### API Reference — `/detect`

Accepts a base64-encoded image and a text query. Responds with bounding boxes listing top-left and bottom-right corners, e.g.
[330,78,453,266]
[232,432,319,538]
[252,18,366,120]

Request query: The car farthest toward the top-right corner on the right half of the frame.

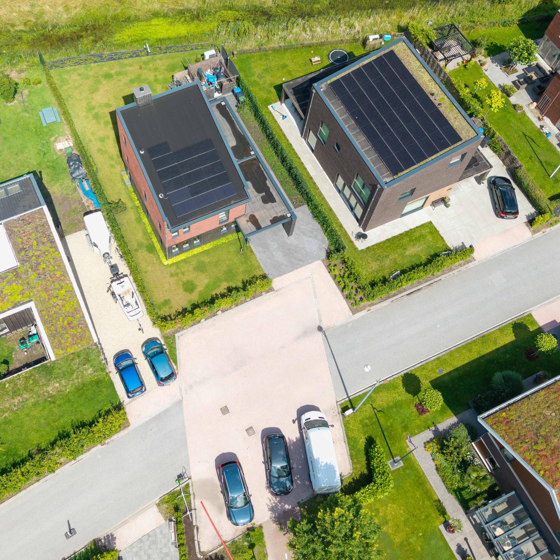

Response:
[489,178,522,221]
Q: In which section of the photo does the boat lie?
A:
left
